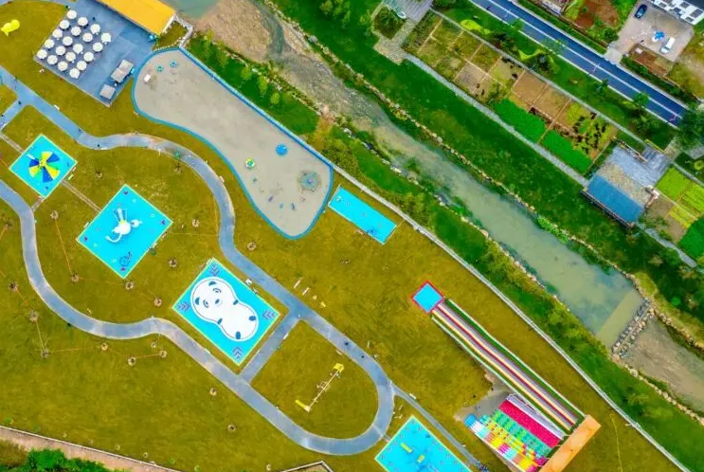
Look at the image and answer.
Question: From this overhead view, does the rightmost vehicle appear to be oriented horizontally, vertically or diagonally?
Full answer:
From this overhead view, the rightmost vehicle appears to run diagonally.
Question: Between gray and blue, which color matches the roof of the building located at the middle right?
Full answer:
The color of the roof of the building located at the middle right is blue.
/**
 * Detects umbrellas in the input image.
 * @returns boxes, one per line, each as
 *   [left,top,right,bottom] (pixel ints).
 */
[45,40,55,51]
[67,10,78,23]
[73,44,84,57]
[58,62,69,74]
[101,33,112,46]
[47,56,58,67]
[83,33,93,45]
[56,46,66,58]
[53,29,63,41]
[66,52,77,65]
[37,50,48,62]
[60,20,71,32]
[76,61,87,73]
[90,24,101,36]
[71,27,82,38]
[93,43,104,55]
[62,37,73,48]
[69,69,80,81]
[78,17,88,30]
[84,52,95,65]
